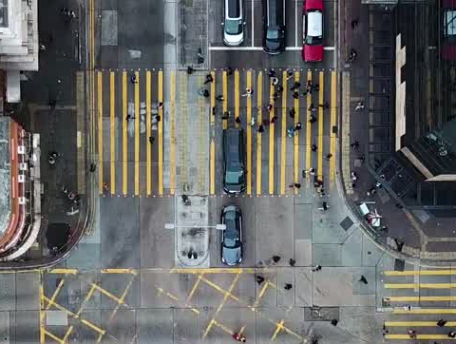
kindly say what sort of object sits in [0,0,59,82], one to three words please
building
